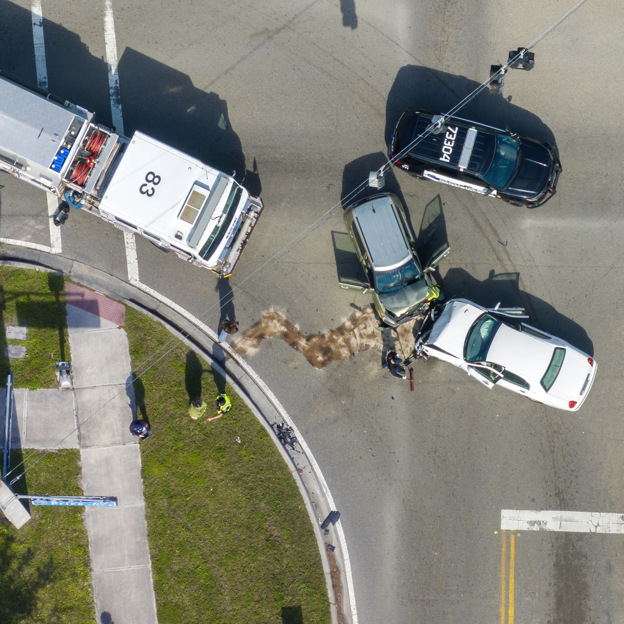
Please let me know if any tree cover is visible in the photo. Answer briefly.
No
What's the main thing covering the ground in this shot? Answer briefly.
paved ground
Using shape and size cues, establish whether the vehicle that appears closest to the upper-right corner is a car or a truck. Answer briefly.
car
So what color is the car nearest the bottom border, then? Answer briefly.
white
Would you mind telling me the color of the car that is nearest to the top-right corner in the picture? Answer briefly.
black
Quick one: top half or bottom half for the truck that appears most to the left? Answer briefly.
top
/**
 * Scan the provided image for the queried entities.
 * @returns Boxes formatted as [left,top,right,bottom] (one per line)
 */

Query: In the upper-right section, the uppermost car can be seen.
[387,105,563,212]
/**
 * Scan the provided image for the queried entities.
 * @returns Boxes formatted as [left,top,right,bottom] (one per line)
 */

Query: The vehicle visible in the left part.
[0,68,265,279]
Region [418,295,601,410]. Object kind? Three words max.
car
